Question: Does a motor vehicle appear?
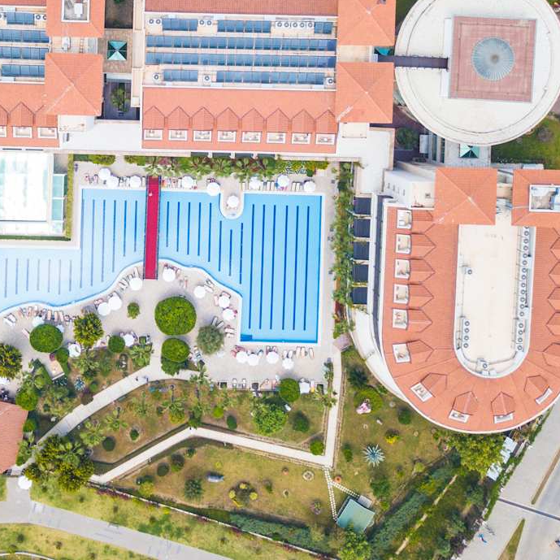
No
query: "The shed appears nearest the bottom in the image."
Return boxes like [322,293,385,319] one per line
[333,489,374,533]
